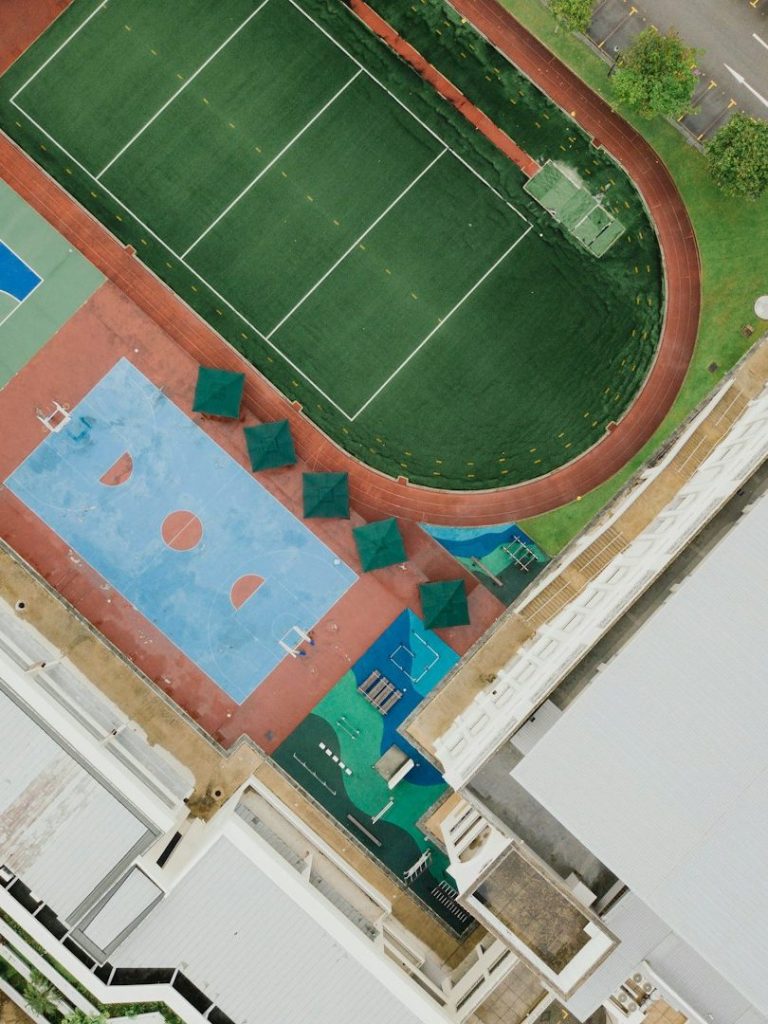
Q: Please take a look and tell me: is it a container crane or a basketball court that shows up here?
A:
basketball court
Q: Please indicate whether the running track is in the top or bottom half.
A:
top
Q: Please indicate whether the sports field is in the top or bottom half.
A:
top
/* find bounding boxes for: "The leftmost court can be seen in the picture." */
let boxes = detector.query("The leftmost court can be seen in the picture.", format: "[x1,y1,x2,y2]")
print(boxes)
[0,184,103,390]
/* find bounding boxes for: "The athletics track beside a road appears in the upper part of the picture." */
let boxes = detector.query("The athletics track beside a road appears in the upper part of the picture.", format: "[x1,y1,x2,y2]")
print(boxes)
[0,0,702,528]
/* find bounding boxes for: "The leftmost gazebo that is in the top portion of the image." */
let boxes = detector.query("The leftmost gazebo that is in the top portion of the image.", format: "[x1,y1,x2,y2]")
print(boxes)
[193,366,246,419]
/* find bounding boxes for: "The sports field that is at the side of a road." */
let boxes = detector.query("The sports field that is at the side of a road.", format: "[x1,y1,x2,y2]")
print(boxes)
[0,0,662,491]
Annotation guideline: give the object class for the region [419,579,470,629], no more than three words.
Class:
gazebo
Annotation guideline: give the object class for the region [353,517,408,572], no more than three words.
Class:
gazebo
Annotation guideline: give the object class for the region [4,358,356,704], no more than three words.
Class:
basketball court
